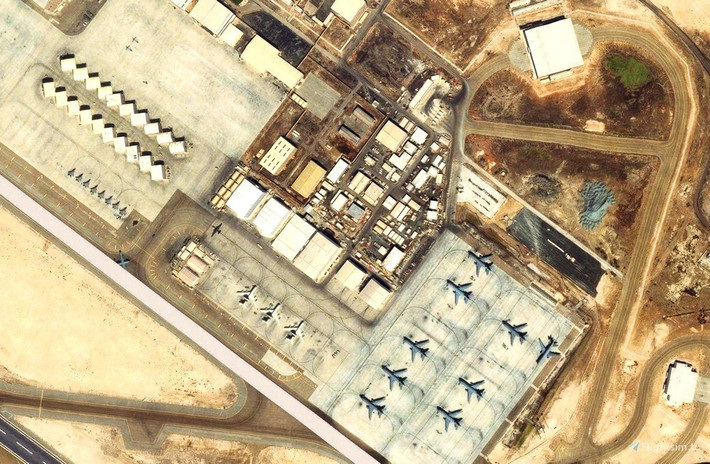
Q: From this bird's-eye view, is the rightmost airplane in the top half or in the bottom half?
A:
bottom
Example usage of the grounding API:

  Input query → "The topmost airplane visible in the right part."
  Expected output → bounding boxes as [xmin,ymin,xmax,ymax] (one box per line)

[469,252,494,276]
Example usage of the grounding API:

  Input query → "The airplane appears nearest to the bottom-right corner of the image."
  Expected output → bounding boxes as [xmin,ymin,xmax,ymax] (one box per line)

[537,336,561,363]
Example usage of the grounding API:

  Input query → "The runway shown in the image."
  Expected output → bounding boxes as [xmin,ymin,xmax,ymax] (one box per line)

[0,175,386,464]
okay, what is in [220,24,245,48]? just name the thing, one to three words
building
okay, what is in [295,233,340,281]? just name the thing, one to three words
hangar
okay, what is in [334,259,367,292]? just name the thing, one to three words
hangar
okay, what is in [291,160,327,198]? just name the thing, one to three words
building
